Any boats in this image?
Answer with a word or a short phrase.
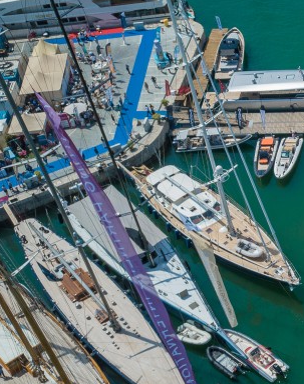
Yes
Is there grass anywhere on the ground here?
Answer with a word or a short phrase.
No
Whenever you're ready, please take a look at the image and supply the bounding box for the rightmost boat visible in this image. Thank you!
[274,131,304,178]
